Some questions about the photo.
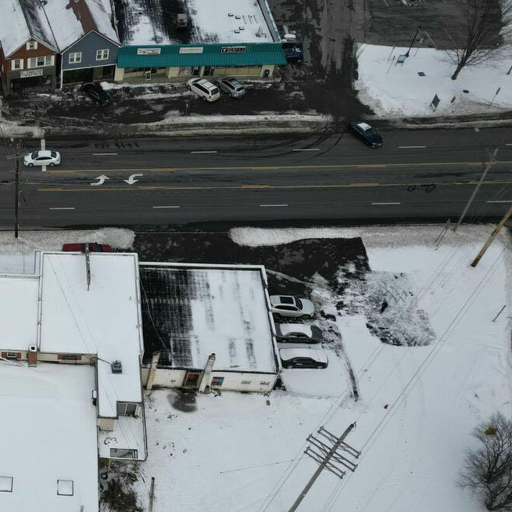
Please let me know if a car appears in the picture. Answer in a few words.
Yes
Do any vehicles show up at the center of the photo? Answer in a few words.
Yes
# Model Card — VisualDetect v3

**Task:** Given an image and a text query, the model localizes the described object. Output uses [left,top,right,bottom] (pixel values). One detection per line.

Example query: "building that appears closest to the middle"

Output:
[137,261,288,397]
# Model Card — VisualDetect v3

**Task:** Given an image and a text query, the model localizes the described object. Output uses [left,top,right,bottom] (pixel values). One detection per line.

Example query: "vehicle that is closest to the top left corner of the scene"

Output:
[80,81,115,106]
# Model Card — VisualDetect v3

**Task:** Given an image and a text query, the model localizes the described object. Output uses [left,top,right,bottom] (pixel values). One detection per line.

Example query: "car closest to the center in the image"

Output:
[269,295,318,319]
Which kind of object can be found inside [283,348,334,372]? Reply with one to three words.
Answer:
car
